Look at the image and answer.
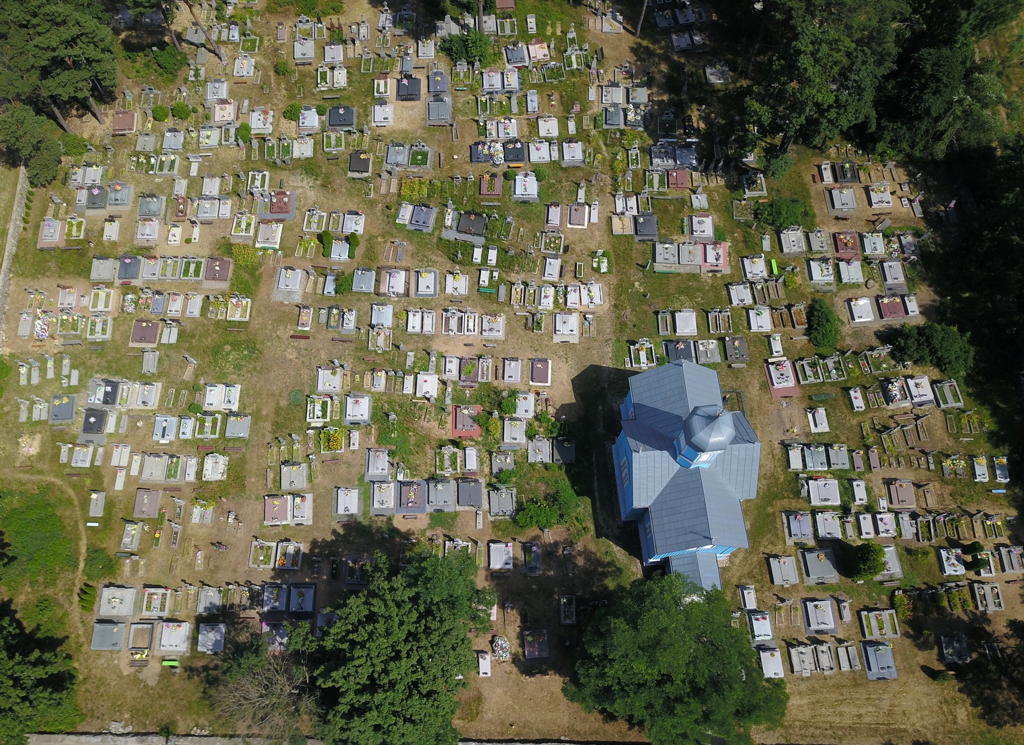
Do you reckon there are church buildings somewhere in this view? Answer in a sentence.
Yes, there's a church building down there.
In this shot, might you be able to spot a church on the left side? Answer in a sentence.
No, there's no church to be seen on the left side.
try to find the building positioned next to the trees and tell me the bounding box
[612,357,761,610]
